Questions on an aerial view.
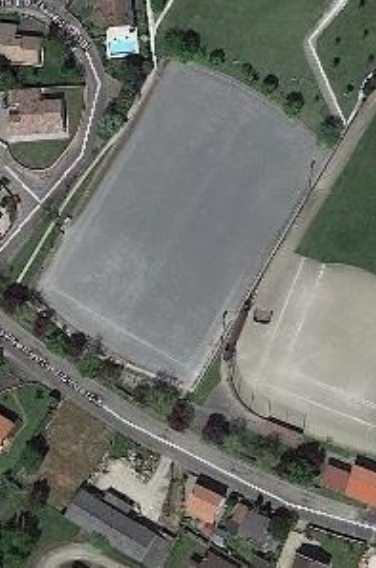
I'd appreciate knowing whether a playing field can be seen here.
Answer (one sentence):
Yes, the image includes a playing field.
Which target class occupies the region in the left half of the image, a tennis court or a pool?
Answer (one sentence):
It is a pool that can be seen in the left half of the image.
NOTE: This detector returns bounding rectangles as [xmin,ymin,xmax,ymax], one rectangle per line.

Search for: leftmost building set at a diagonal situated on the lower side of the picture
[66,489,156,561]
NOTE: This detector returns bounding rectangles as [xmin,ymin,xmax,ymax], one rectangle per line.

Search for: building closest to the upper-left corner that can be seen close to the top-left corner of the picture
[0,23,44,65]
